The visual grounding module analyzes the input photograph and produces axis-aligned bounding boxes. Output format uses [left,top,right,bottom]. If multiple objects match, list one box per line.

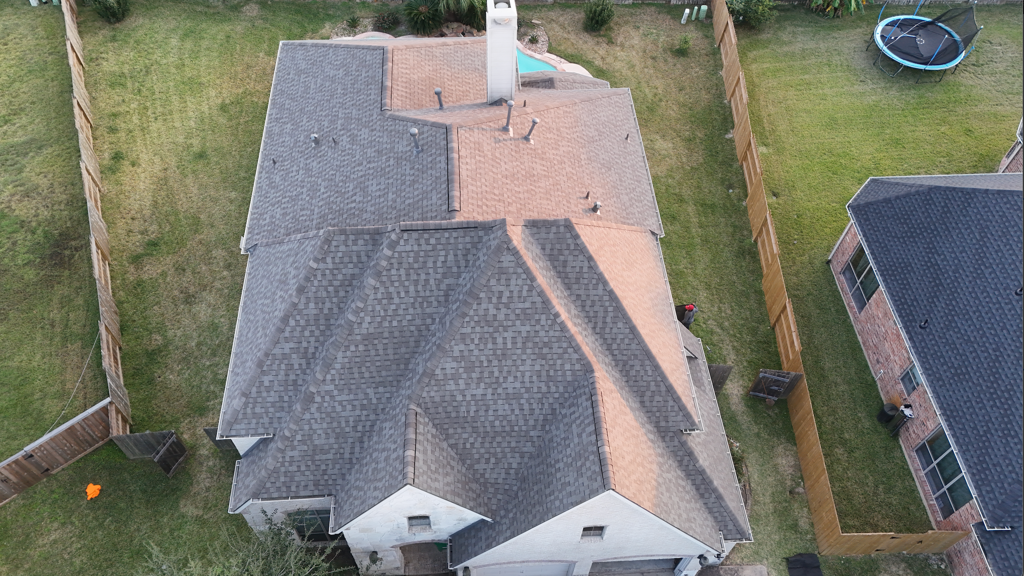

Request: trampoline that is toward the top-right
[869,0,983,85]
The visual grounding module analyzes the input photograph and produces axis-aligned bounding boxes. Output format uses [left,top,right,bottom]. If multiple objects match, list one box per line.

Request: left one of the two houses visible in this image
[218,0,751,576]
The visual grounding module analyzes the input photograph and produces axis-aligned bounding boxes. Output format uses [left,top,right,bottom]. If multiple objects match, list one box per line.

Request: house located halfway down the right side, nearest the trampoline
[817,122,1024,576]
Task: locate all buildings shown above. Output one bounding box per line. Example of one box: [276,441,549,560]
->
[218,0,751,576]
[817,122,1024,576]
